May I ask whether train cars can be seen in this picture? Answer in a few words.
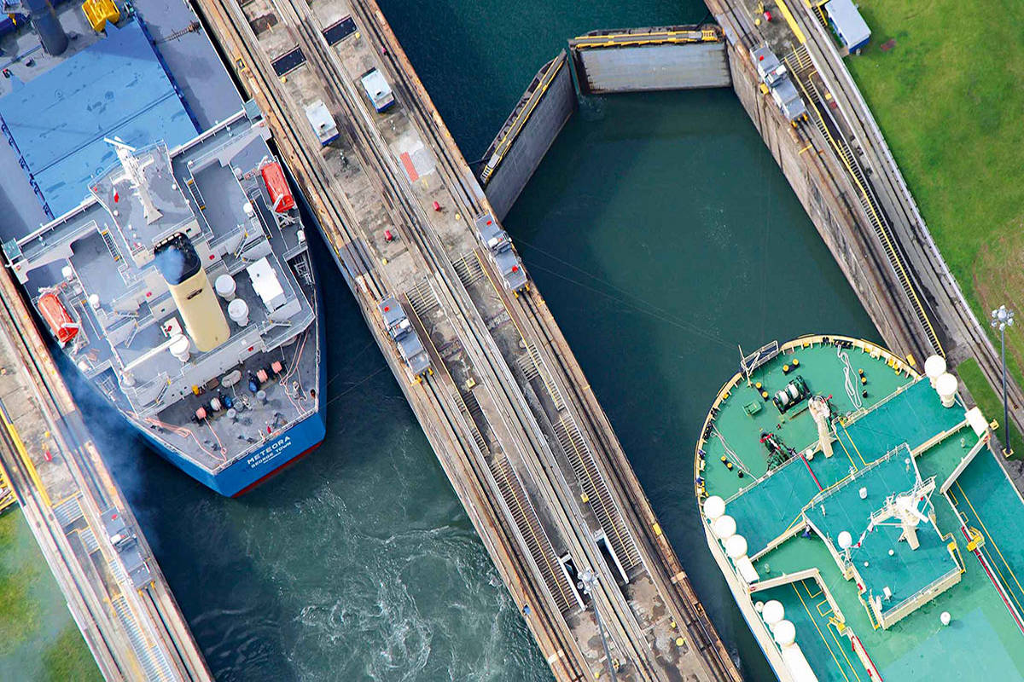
Yes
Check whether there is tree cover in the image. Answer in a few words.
No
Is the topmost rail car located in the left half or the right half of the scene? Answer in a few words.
right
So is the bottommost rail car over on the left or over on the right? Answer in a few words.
left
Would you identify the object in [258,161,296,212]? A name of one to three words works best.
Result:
boat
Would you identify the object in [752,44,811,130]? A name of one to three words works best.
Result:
rail car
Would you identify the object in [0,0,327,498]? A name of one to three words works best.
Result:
ship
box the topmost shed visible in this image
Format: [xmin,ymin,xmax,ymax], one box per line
[817,0,872,64]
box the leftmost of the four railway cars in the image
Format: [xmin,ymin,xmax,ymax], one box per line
[100,506,157,597]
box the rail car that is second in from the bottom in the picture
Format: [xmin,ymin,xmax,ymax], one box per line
[378,297,436,385]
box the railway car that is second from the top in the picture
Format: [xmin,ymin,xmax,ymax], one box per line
[474,214,533,301]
